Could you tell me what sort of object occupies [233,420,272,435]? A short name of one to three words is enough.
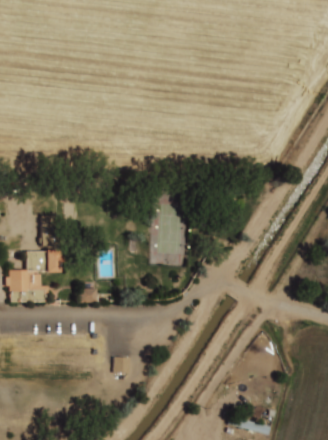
house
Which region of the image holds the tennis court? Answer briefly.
center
